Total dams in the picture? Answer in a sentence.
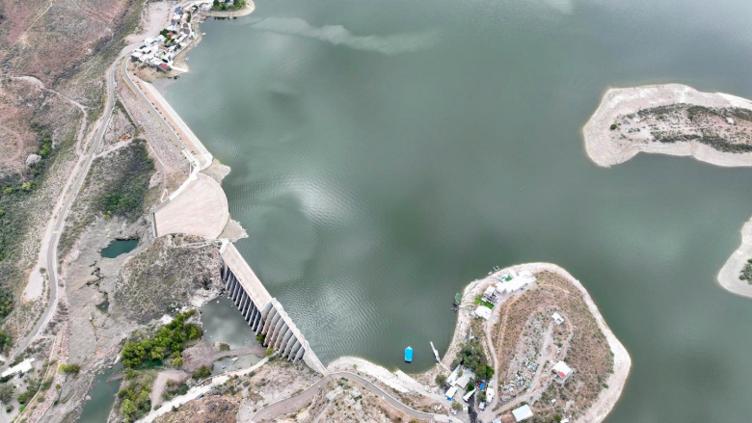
The number of dams here is 2.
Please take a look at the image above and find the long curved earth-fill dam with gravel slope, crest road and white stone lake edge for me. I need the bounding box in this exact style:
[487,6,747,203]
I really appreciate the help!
[113,67,215,170]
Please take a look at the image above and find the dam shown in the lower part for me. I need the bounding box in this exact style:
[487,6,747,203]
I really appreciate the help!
[219,239,330,377]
